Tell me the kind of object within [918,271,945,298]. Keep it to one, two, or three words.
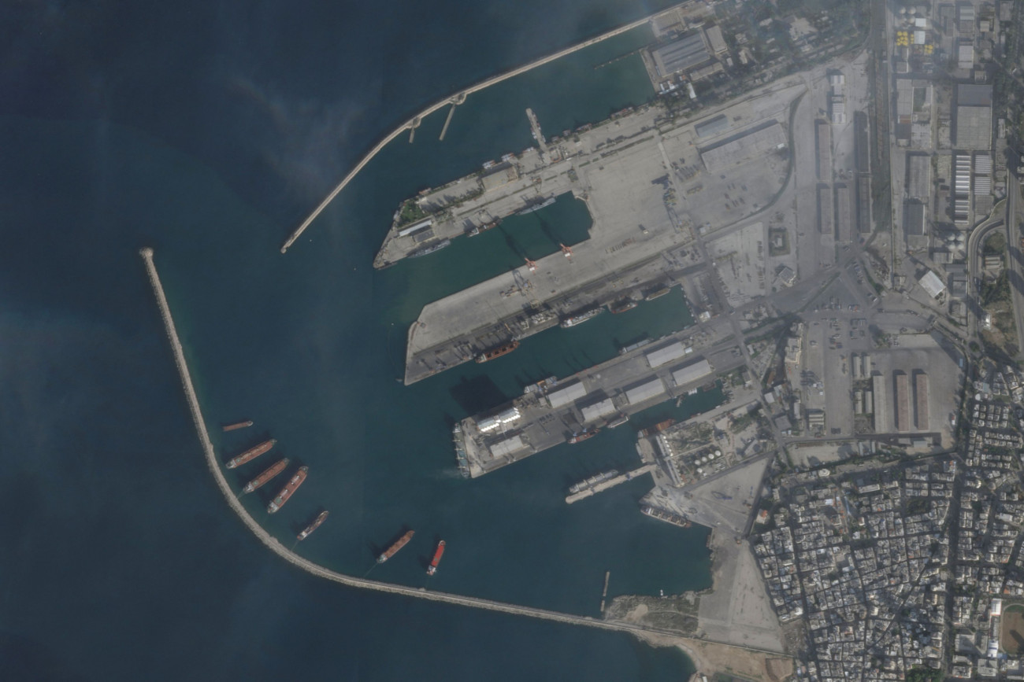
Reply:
building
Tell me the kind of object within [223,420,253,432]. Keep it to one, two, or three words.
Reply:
ship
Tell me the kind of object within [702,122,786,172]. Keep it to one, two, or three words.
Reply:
building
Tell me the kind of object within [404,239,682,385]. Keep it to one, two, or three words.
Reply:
pier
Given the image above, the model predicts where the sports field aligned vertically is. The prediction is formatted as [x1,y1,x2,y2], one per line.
[1001,600,1024,660]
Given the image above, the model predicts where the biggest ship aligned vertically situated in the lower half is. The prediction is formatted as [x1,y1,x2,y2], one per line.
[454,423,469,478]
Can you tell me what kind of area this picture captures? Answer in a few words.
port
